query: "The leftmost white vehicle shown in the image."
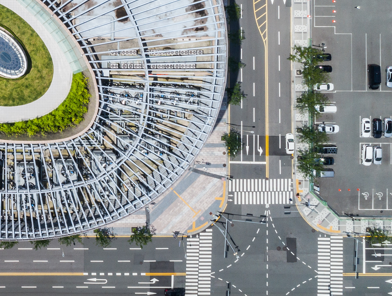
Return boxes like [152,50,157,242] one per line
[283,133,296,154]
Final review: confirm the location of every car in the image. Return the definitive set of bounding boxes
[311,52,333,62]
[361,144,374,166]
[373,147,383,164]
[313,167,336,178]
[313,65,333,74]
[314,103,339,114]
[315,145,337,154]
[165,287,185,296]
[371,118,383,138]
[368,65,382,89]
[382,117,392,138]
[283,133,296,154]
[314,156,334,165]
[385,66,392,87]
[313,82,334,91]
[318,124,339,134]
[360,118,372,138]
